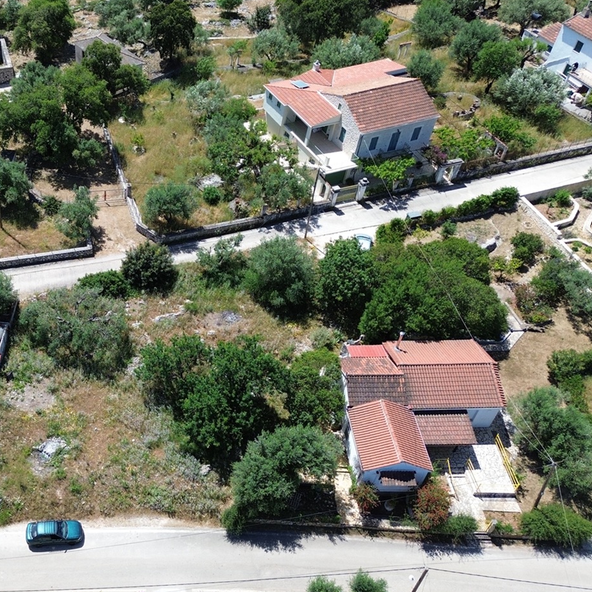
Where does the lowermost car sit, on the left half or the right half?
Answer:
left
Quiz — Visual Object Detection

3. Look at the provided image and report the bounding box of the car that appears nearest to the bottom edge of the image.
[24,521,83,552]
